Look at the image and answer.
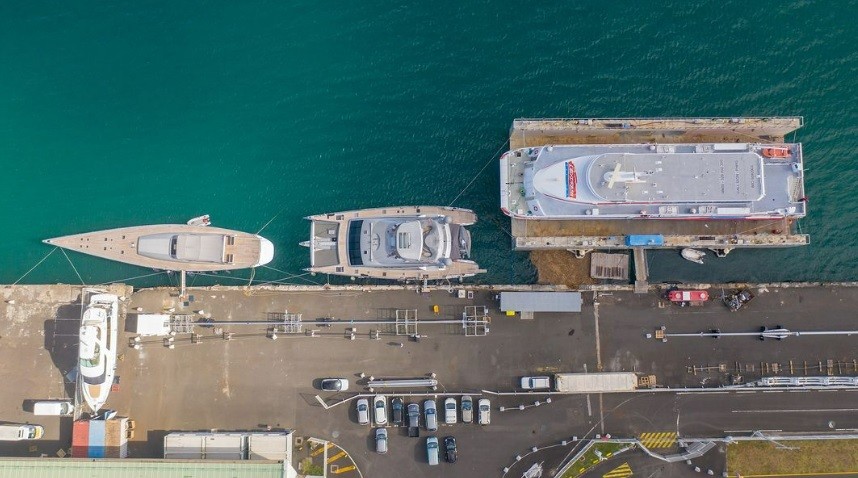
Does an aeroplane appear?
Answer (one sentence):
No, the scene contains no aeroplane.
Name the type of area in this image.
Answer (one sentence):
The area seen from above is a port.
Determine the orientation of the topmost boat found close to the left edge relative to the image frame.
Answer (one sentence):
Seen from above, the topmost boat found close to the left edge lies from side to side.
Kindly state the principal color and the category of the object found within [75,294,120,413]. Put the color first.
white boat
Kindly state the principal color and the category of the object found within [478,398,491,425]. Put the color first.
white vehicle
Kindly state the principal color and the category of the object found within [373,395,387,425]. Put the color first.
white car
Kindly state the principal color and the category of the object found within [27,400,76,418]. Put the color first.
white vehicle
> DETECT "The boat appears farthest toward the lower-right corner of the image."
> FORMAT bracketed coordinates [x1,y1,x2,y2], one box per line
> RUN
[682,248,708,265]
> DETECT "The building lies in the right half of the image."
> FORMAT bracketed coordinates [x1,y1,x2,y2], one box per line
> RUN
[496,292,583,312]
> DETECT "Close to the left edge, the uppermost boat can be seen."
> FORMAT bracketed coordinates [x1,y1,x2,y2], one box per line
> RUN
[41,224,274,275]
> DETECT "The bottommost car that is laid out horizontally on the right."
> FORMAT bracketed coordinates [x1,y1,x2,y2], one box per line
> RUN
[520,377,550,391]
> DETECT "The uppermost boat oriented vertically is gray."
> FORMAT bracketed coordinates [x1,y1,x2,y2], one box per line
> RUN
[457,226,471,259]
